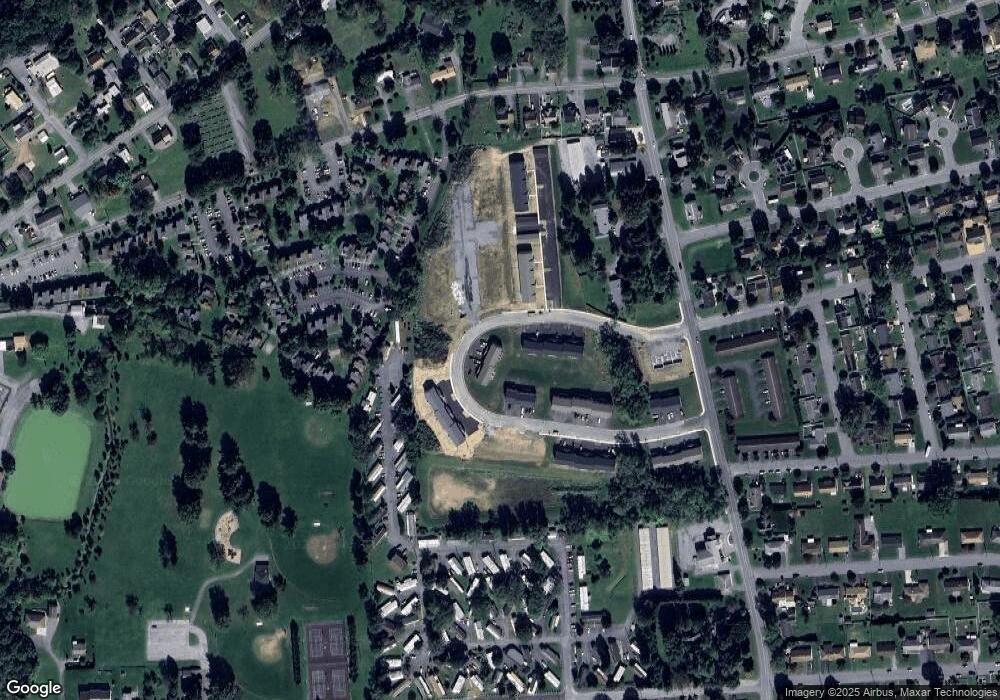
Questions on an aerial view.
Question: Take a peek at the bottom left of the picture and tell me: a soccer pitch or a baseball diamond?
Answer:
baseball diamond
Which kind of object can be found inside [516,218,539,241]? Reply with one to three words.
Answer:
building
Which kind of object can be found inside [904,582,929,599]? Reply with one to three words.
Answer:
house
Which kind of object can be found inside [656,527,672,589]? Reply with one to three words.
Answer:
shed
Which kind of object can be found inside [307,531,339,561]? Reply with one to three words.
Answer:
baseball field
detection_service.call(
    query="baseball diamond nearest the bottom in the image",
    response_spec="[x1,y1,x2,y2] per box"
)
[252,628,294,663]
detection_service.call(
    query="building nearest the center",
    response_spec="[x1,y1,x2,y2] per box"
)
[474,340,505,386]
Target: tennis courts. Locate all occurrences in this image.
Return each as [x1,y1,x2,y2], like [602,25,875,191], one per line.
[329,627,343,656]
[309,629,323,657]
[312,672,325,700]
[332,670,346,699]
